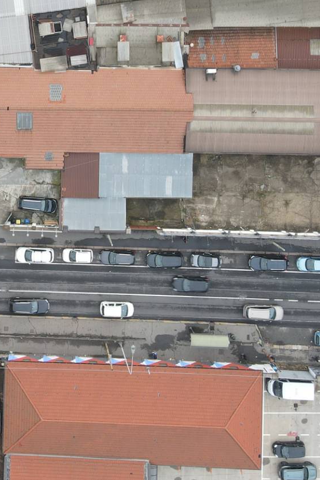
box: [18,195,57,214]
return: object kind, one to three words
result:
car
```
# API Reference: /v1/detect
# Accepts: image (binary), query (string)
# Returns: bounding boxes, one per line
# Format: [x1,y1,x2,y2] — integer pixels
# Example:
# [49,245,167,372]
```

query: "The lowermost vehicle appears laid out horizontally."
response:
[276,460,318,480]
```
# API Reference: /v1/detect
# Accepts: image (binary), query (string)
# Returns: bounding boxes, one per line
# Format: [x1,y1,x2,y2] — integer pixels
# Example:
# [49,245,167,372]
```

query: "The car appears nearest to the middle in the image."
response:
[144,250,183,269]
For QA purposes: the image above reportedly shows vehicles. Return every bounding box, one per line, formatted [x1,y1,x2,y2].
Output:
[263,379,317,400]
[246,253,288,273]
[241,301,284,322]
[276,460,318,480]
[188,252,222,269]
[9,295,49,316]
[61,248,93,265]
[98,249,135,266]
[18,195,57,214]
[270,438,307,459]
[144,250,183,269]
[294,255,320,273]
[171,273,210,294]
[98,299,134,319]
[16,245,55,265]
[313,329,320,345]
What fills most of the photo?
buildings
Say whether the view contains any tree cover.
No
